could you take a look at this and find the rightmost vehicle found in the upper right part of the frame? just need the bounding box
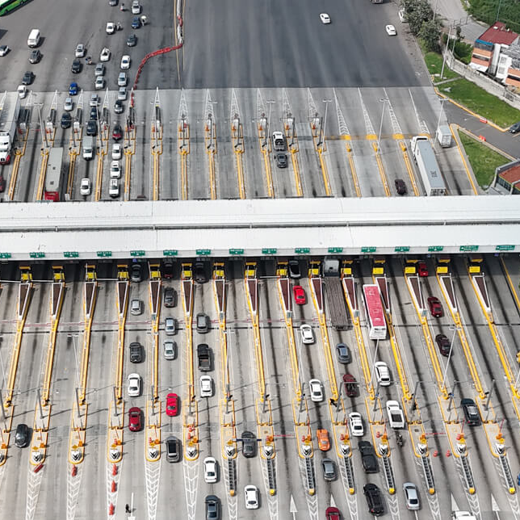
[506,121,520,134]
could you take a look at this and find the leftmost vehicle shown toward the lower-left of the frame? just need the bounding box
[13,422,30,449]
